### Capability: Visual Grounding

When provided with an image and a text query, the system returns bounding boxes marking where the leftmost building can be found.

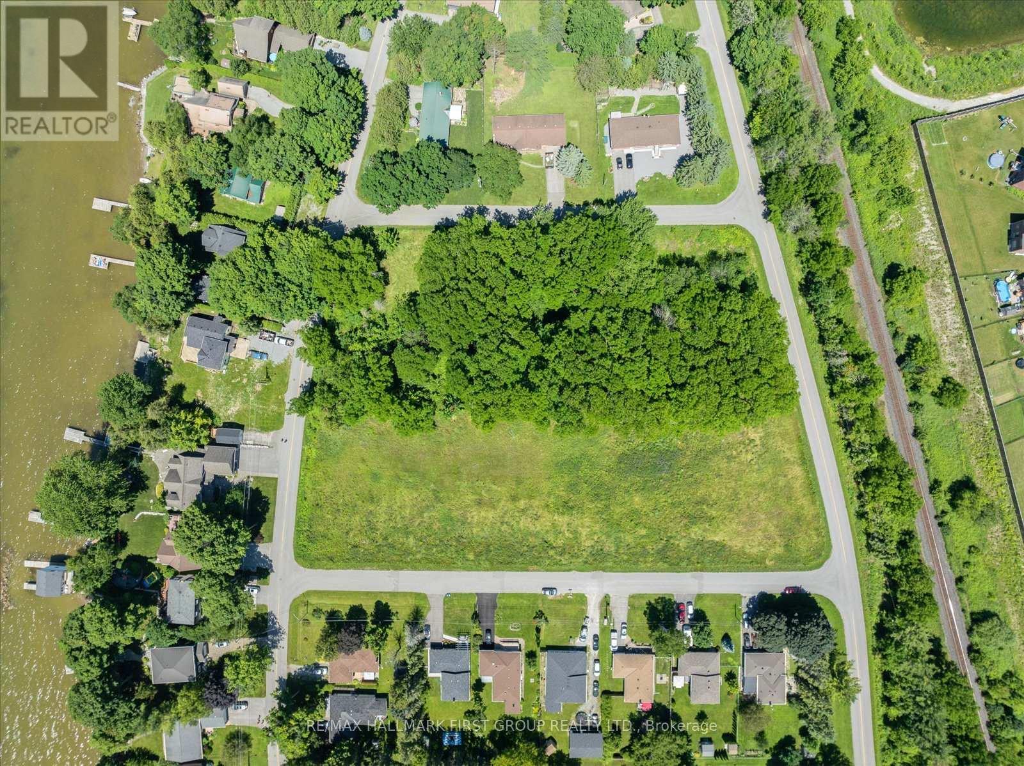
[36,570,66,598]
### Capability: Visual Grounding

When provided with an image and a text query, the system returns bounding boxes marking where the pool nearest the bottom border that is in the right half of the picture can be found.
[996,279,1011,303]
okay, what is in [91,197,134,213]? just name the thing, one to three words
pier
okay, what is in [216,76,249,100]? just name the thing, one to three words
building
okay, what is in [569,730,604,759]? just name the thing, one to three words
building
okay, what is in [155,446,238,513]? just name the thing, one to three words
house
